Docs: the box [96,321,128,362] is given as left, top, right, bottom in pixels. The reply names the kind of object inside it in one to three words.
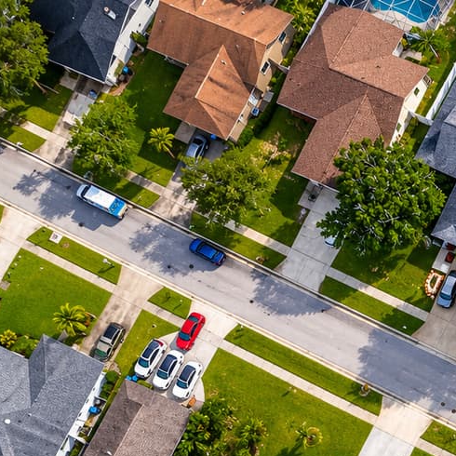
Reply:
car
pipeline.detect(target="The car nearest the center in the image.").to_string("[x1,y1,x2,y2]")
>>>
[191,238,230,268]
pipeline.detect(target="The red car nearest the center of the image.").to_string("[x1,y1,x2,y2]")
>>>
[178,311,208,351]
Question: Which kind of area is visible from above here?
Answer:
residential area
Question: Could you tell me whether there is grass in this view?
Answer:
Yes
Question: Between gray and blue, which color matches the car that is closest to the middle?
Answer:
blue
